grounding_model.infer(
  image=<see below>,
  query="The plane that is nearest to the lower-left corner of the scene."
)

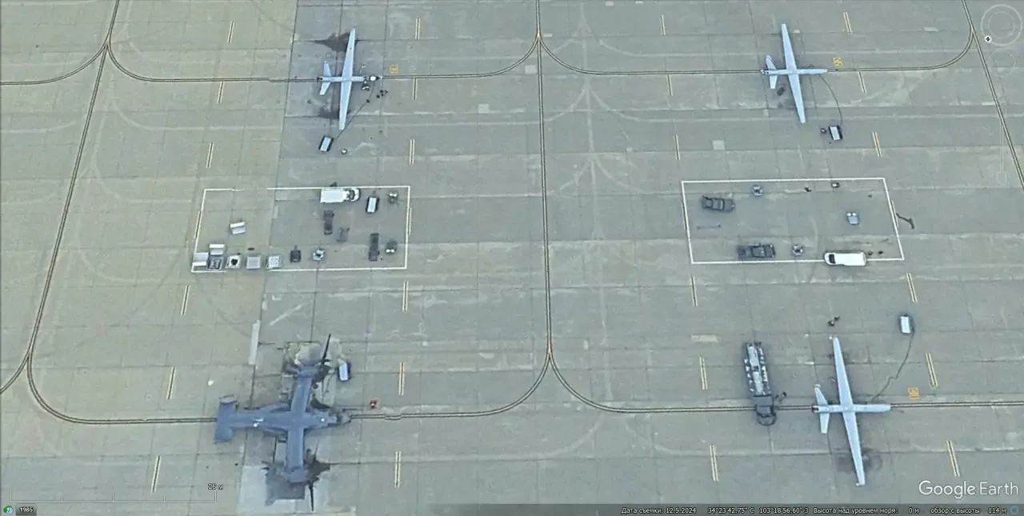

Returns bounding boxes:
[210,323,358,510]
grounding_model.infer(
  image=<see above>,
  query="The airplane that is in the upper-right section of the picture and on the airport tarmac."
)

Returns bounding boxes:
[761,23,826,123]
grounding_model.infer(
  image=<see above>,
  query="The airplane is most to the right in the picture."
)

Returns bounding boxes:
[808,335,889,487]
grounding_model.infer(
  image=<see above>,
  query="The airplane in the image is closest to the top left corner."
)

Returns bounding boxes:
[315,28,382,129]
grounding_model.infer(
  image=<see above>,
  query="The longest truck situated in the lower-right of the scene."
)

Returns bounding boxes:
[744,343,778,429]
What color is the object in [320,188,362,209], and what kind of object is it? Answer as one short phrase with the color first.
white truck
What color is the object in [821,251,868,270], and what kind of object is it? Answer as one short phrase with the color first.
white vehicle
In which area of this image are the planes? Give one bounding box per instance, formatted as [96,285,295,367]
[210,323,358,510]
[315,28,382,129]
[761,23,826,123]
[808,335,889,487]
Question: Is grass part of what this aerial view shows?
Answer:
No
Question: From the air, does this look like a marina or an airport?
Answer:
airport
